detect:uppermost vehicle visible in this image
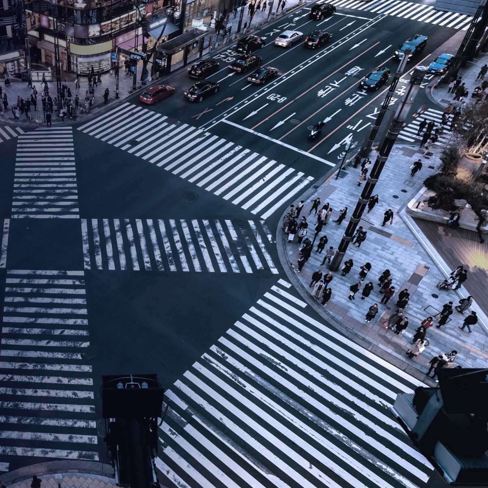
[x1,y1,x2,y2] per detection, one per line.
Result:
[310,1,337,17]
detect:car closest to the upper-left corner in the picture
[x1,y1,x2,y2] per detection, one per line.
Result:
[139,83,175,103]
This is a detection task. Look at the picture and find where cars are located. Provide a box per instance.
[305,29,334,47]
[396,29,429,57]
[246,63,280,83]
[187,58,221,78]
[236,29,267,52]
[230,53,262,72]
[183,80,220,100]
[274,27,306,46]
[359,63,395,89]
[310,1,337,17]
[139,83,175,103]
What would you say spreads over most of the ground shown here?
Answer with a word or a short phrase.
paved ground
